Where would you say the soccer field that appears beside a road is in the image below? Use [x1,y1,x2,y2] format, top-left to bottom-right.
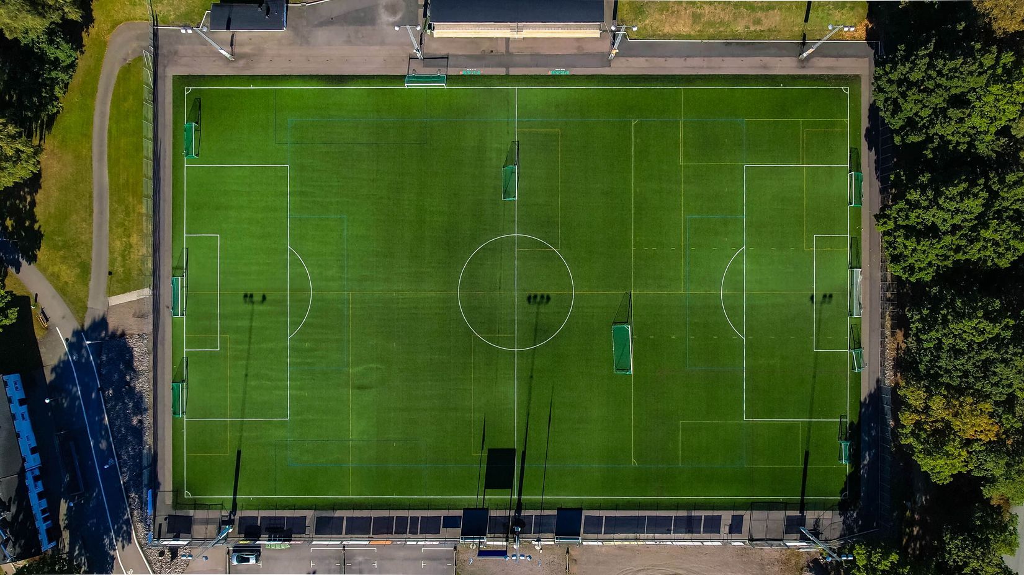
[172,75,861,510]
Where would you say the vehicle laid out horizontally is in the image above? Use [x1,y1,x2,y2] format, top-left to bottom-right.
[230,552,261,566]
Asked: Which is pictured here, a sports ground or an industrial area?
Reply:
sports ground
